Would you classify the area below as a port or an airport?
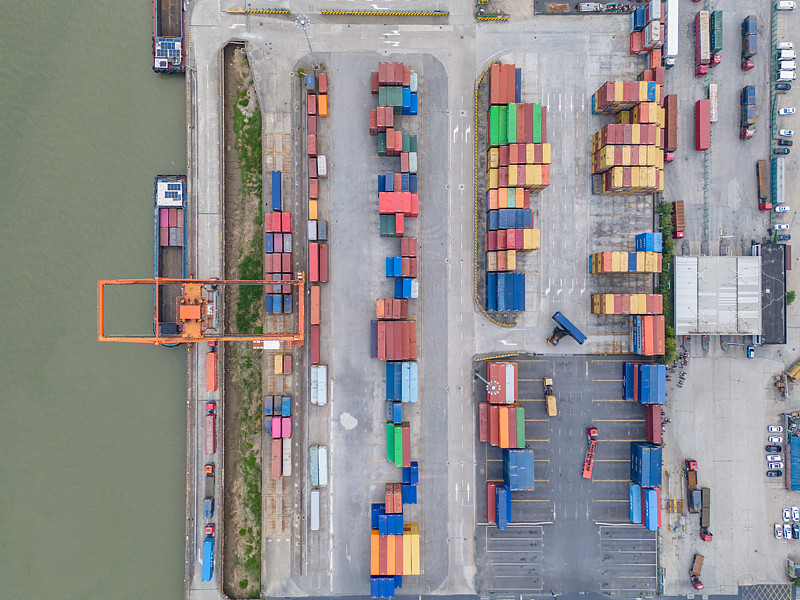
port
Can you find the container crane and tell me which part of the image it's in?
left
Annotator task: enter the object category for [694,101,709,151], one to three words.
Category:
trailer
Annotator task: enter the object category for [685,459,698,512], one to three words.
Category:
vehicle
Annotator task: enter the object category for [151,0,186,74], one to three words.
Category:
ship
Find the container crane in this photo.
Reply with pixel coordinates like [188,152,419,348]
[97,262,305,352]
